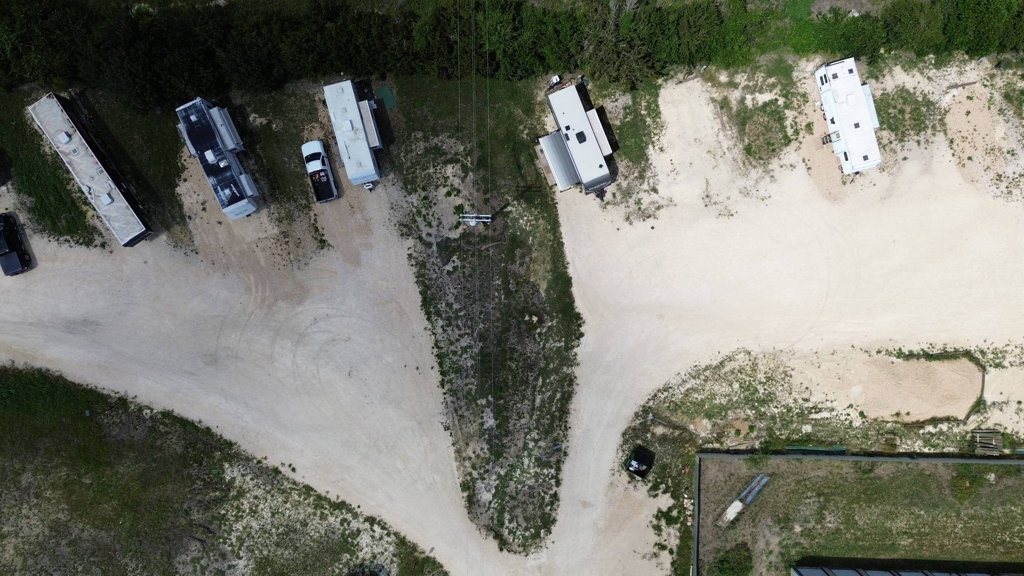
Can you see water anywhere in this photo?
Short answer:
No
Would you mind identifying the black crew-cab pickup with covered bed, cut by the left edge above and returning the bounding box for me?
[0,206,28,276]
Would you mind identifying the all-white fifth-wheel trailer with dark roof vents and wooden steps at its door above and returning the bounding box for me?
[814,57,881,177]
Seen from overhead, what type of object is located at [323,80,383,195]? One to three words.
trailer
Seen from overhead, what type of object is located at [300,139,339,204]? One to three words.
truck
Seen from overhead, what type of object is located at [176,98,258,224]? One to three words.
trailer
